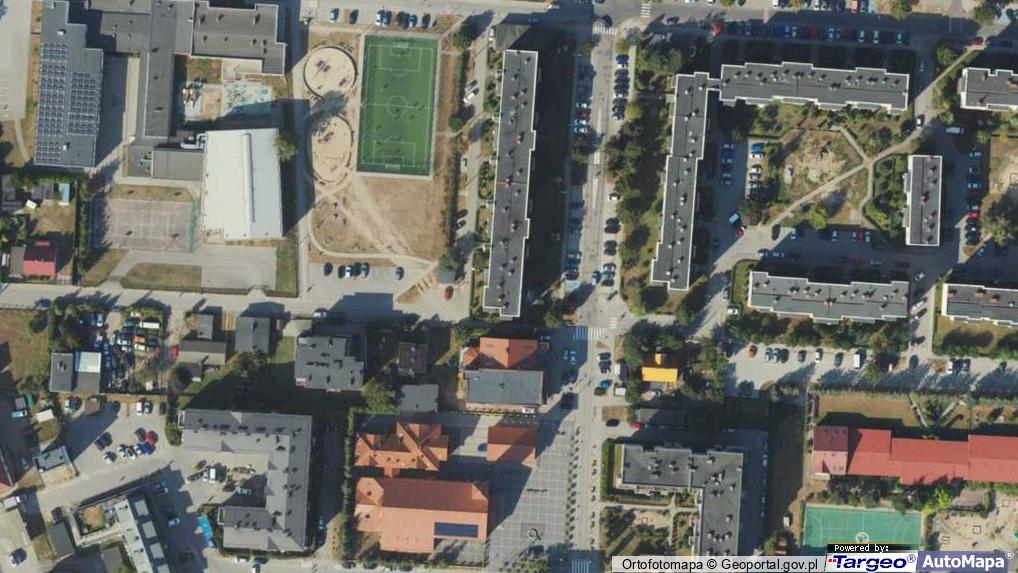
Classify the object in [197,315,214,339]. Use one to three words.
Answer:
shed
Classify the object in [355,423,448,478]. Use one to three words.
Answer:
house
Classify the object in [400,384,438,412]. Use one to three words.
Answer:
building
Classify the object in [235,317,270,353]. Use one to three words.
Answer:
house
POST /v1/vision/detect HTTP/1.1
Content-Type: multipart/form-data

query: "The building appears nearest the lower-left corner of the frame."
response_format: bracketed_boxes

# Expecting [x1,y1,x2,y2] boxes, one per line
[0,507,32,557]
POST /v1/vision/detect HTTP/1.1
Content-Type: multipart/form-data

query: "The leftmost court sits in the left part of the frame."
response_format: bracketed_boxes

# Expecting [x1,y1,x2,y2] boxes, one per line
[97,199,191,250]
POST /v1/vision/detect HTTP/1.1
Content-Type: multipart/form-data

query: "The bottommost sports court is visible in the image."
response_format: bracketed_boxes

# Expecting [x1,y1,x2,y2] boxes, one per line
[797,503,924,573]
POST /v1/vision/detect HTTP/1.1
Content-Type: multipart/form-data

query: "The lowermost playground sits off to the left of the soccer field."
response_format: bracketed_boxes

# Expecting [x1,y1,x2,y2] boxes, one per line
[309,114,353,184]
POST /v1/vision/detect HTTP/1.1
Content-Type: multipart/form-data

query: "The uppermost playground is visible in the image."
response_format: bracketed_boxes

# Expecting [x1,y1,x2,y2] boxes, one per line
[304,46,356,98]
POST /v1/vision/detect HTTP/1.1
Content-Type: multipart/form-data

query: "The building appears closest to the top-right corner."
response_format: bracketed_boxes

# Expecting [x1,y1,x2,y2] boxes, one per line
[955,68,1018,112]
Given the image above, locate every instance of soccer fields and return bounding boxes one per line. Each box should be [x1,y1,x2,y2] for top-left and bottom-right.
[353,31,442,179]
